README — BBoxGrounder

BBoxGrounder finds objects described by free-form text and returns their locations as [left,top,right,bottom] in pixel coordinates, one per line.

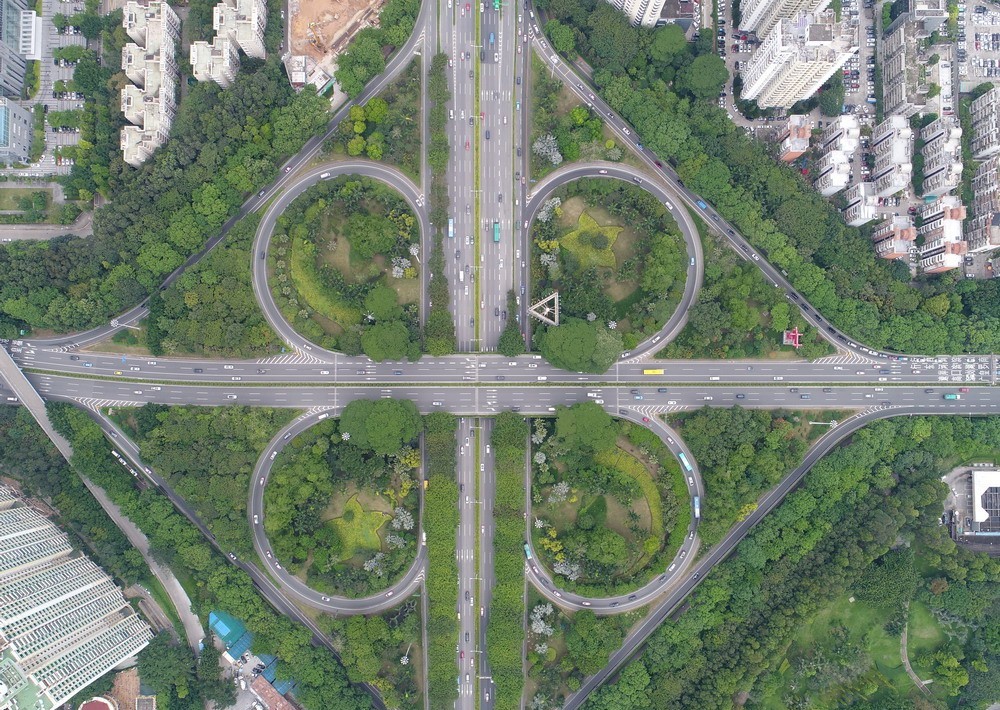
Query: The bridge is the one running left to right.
[408,355,541,416]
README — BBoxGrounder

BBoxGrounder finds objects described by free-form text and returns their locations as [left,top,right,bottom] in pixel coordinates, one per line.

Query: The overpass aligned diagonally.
[0,344,208,672]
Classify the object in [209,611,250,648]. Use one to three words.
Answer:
shed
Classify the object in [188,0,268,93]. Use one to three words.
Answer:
building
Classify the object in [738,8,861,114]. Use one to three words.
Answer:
building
